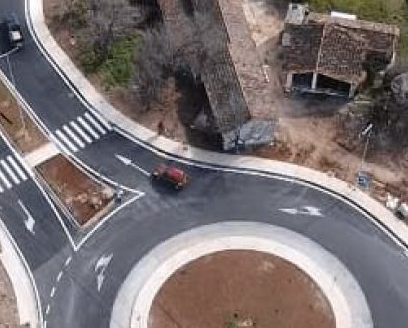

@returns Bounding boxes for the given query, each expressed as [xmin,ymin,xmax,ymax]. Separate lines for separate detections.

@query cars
[149,165,190,191]
[2,22,24,49]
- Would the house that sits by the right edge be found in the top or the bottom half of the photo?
top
